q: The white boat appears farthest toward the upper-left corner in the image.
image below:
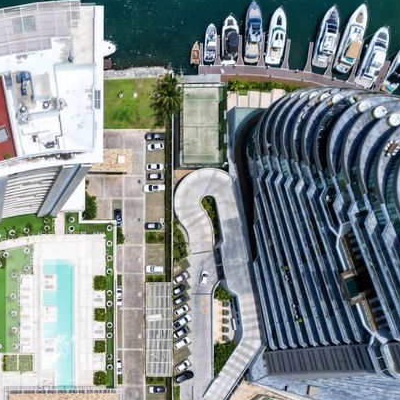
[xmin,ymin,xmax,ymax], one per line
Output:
[103,38,117,56]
